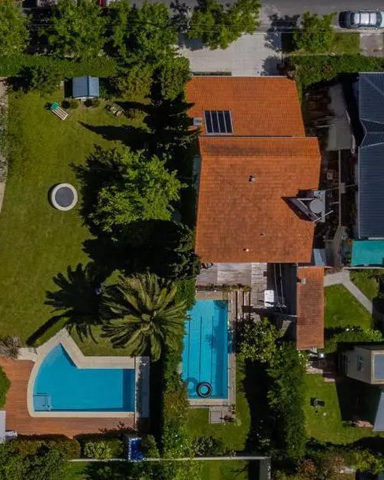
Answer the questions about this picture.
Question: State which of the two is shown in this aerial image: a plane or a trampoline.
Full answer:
The one in the frame is a trampoline.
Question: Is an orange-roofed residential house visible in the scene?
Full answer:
Yes, there is an orange-roofed residential house in the image.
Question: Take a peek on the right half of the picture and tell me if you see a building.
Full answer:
Yes, on the right half of the picture there is a building.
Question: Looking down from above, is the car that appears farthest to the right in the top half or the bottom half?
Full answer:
The car that appears farthest to the right is in the top half of the image.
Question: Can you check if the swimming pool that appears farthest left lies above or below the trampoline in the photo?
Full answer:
In the image, the swimming pool that appears farthest left sits below the trampoline.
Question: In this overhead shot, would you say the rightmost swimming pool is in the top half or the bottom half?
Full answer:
Seen from above, the rightmost swimming pool lies in the bottom half of the view.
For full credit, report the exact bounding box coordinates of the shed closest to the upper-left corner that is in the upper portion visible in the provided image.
[71,76,99,99]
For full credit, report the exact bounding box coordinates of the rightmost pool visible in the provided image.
[182,290,234,406]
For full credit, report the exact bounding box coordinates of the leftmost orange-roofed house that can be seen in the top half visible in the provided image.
[185,75,332,262]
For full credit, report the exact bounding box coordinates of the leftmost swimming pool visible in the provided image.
[28,327,134,417]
